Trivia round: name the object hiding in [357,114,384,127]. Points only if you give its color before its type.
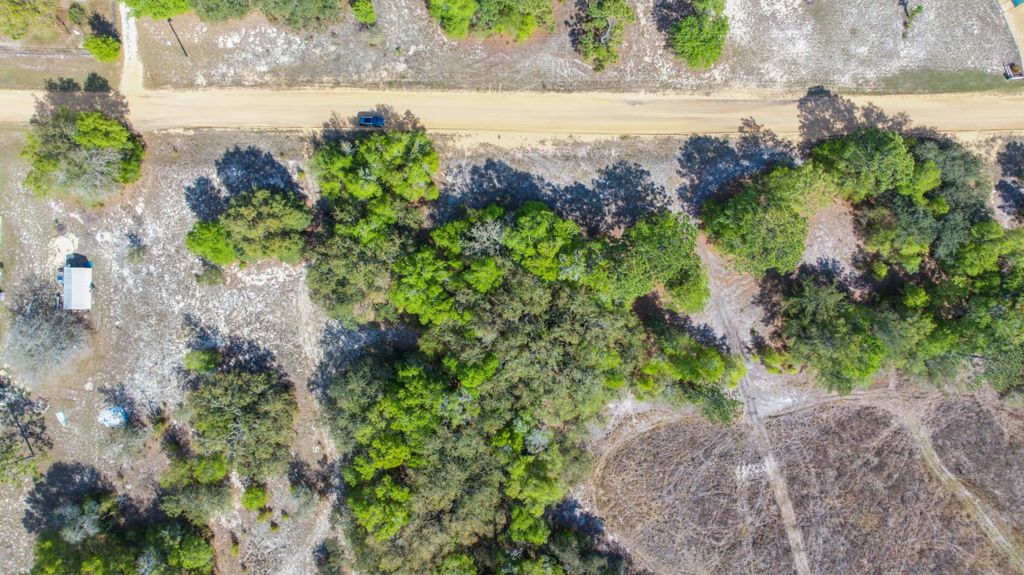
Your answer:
blue vehicle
